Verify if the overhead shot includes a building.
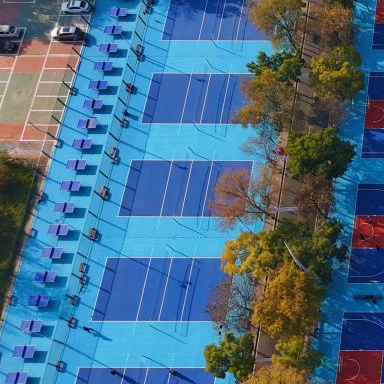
No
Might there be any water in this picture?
No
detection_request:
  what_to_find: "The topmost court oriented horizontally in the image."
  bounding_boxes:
[162,0,277,49]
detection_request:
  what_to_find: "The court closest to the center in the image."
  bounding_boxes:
[118,149,251,228]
